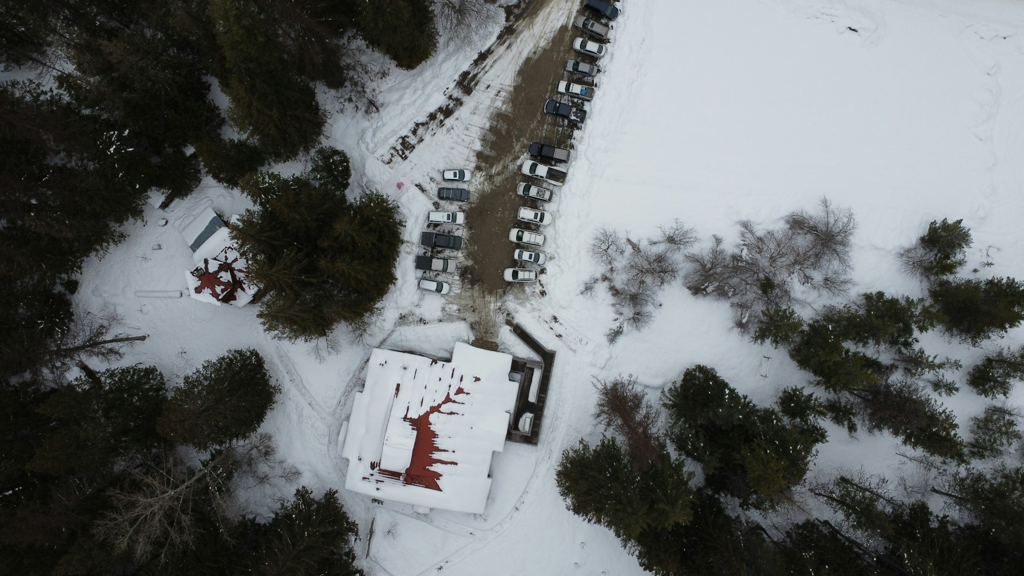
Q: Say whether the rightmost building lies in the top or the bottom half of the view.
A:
bottom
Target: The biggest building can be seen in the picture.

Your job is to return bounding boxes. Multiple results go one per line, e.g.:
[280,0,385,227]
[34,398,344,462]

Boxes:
[338,342,519,513]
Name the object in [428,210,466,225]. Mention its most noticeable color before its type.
white vehicle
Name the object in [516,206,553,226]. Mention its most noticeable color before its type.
white car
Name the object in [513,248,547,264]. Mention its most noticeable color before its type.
white car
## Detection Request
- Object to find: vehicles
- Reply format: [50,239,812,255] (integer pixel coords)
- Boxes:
[428,210,466,225]
[418,278,452,295]
[508,228,547,247]
[573,16,609,41]
[556,80,595,101]
[442,168,473,183]
[415,256,459,274]
[437,187,470,203]
[571,38,607,60]
[503,267,538,283]
[521,161,568,186]
[582,0,618,22]
[543,100,587,124]
[516,206,553,226]
[527,142,571,164]
[516,183,553,203]
[513,248,547,264]
[421,232,463,250]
